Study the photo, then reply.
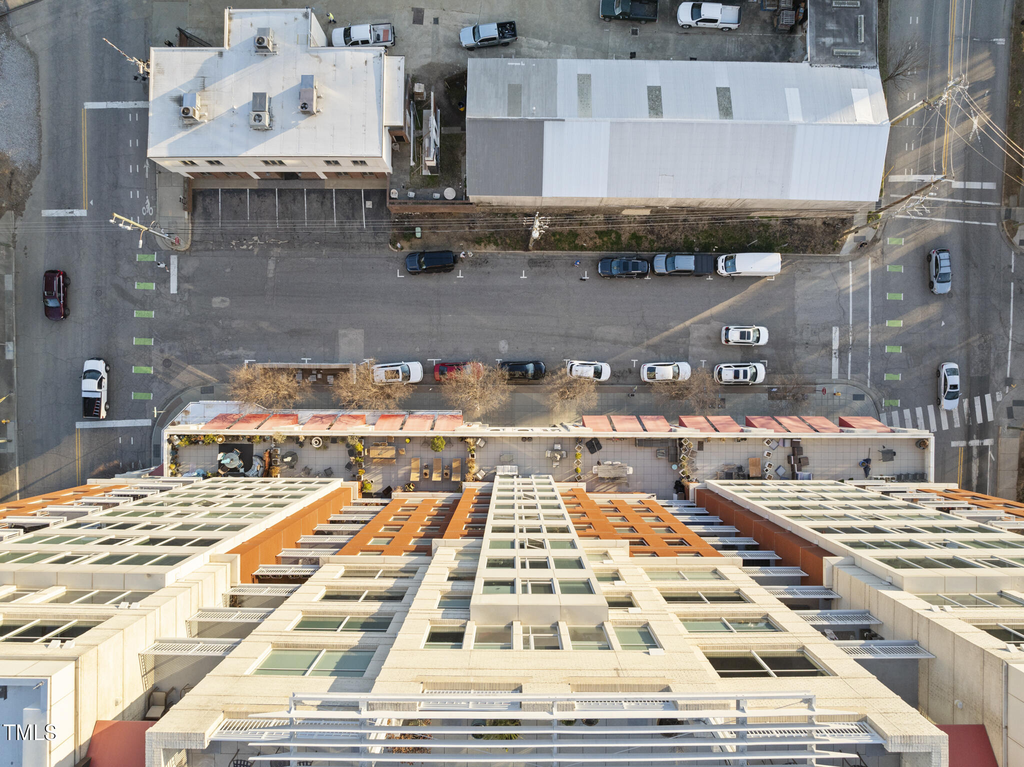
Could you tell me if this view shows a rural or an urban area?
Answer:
urban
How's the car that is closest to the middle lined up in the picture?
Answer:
from side to side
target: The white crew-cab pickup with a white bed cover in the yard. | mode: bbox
[676,1,742,32]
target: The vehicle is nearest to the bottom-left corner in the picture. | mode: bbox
[81,357,111,419]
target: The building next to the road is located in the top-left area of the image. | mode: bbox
[146,5,413,180]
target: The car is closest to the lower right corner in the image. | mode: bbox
[933,361,960,410]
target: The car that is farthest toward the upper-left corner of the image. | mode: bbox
[42,269,72,321]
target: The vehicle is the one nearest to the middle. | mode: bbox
[500,360,546,382]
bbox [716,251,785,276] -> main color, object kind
white vehicle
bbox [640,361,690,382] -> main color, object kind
white car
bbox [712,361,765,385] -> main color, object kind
white car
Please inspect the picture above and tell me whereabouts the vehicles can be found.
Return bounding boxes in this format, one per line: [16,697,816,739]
[566,361,611,381]
[599,0,658,23]
[676,1,742,32]
[42,269,72,321]
[926,249,953,295]
[81,357,111,419]
[333,22,395,50]
[652,253,714,277]
[373,361,424,384]
[719,324,767,346]
[433,360,484,383]
[500,360,546,382]
[933,361,960,410]
[716,251,785,276]
[712,361,765,385]
[597,255,650,280]
[407,250,458,273]
[640,361,690,382]
[459,22,518,52]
